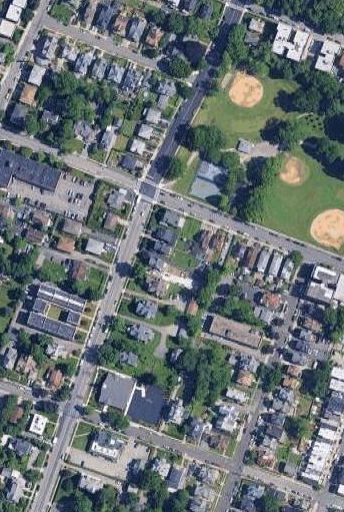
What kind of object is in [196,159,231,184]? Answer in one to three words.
tennis court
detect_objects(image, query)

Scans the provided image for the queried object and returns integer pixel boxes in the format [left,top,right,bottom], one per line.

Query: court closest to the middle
[189,175,224,201]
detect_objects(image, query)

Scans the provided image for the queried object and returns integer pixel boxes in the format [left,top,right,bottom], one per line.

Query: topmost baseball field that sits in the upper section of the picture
[208,65,293,150]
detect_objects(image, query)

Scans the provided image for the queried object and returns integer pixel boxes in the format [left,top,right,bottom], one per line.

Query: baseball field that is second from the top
[273,149,323,190]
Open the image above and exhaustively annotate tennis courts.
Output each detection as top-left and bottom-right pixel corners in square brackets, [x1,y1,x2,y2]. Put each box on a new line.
[196,159,231,184]
[189,175,224,201]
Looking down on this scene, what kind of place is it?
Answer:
residential area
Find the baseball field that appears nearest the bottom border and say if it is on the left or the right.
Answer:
right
